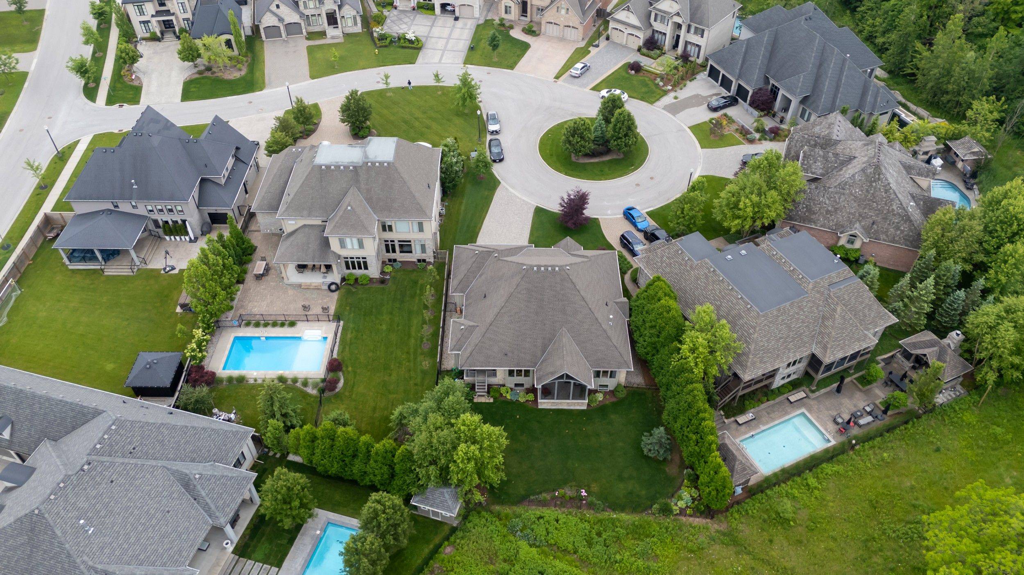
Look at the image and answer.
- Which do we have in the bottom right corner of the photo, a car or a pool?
pool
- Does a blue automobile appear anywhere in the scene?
Yes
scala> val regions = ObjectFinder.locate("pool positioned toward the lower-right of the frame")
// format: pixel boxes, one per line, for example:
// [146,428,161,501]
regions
[741,412,827,471]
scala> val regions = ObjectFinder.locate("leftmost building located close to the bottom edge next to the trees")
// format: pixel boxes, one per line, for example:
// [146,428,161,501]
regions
[0,365,259,575]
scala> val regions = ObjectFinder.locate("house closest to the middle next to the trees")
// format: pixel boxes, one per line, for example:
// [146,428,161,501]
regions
[448,236,634,408]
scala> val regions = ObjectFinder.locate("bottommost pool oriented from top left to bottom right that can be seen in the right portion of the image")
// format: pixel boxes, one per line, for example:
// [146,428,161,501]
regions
[934,181,968,216]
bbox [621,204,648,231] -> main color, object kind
blue car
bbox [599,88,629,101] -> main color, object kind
white vehicle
